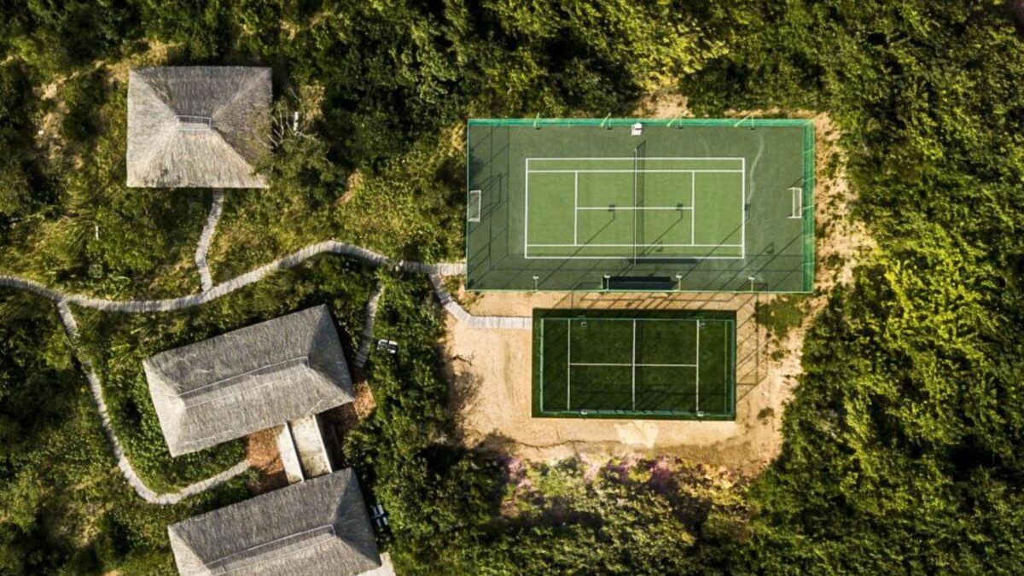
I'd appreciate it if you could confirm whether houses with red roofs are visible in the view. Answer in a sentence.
No, no house with a red roof is visible in the scene.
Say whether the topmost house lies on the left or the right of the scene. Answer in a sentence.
It is on the left.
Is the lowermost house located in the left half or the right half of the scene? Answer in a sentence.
The lowermost house appears in the left half of the scene.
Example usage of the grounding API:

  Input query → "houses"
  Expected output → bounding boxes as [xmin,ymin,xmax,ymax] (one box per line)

[125,66,273,189]
[168,468,383,576]
[142,306,353,457]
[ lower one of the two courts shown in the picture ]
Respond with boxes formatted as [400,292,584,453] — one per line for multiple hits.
[532,309,735,420]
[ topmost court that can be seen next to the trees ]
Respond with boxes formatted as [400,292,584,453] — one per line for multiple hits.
[468,126,805,291]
